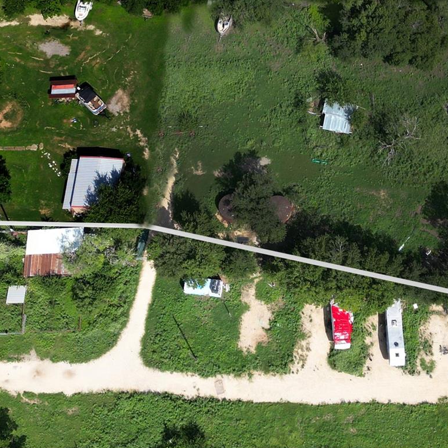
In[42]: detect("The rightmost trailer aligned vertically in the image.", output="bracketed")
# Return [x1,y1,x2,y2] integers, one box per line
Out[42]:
[384,302,406,377]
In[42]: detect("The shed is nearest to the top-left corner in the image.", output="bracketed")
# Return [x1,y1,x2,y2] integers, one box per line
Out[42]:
[50,79,79,99]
